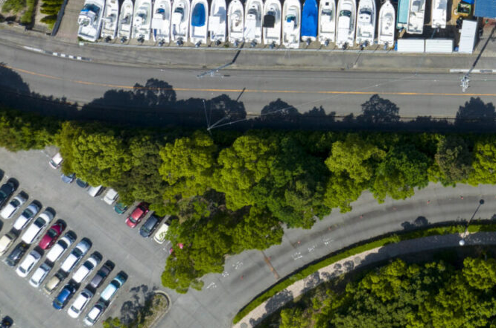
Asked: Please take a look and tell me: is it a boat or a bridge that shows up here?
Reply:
boat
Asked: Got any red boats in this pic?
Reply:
No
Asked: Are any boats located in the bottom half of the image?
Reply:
No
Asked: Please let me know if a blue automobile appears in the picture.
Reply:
Yes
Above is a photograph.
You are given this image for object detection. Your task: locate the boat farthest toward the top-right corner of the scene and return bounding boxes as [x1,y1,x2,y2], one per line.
[432,0,447,33]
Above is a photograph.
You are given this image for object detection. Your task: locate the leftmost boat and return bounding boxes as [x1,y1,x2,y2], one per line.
[75,0,107,41]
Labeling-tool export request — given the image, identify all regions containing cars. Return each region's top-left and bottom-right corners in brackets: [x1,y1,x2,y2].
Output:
[47,148,61,171]
[88,261,117,291]
[0,180,20,212]
[61,239,93,272]
[137,216,164,237]
[12,201,44,232]
[6,241,34,269]
[73,252,104,284]
[21,211,56,245]
[0,223,7,237]
[0,233,18,258]
[1,191,31,221]
[47,230,78,262]
[102,180,124,206]
[126,204,149,228]
[28,259,56,289]
[44,270,68,295]
[53,280,79,309]
[68,286,97,317]
[86,173,114,202]
[17,247,45,277]
[83,297,109,325]
[113,203,128,215]
[152,218,178,244]
[102,273,130,305]
[38,220,68,251]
